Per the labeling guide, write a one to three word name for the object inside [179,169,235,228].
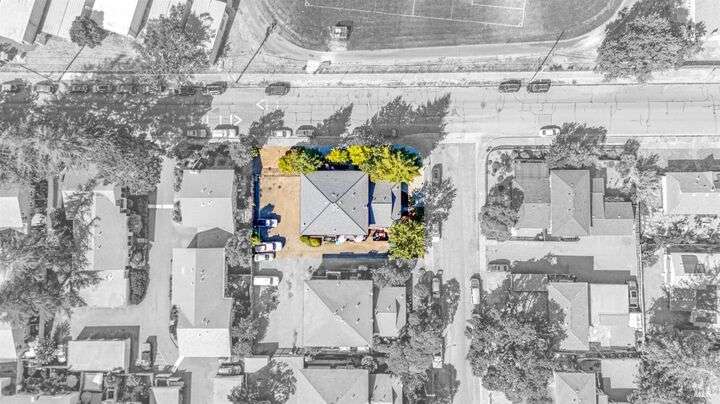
house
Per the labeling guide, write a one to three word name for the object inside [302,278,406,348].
house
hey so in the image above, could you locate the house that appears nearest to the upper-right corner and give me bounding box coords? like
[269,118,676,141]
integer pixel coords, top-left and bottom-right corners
[657,171,720,216]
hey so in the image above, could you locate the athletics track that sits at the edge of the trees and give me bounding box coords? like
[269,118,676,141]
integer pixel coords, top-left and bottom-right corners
[232,0,634,64]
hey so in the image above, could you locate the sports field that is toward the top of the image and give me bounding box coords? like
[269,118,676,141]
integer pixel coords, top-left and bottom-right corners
[232,0,634,64]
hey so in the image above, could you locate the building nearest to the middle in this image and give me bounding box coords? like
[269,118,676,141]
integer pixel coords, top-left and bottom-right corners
[299,169,401,237]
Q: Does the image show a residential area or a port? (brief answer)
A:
residential area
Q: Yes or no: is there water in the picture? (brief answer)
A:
No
